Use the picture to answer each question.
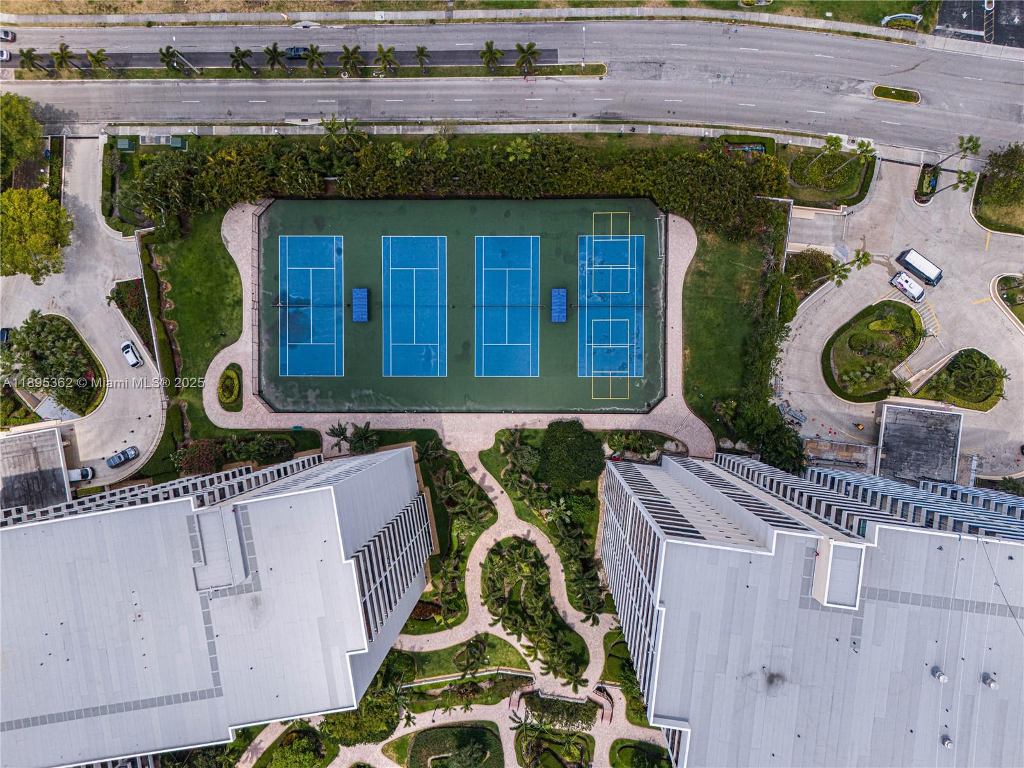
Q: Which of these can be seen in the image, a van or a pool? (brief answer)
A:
van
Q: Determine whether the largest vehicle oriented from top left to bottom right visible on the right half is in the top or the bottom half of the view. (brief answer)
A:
top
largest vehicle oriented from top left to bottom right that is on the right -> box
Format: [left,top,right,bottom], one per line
[891,245,945,287]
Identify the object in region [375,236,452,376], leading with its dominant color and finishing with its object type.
blue tennis court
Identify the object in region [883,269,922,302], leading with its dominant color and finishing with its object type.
white van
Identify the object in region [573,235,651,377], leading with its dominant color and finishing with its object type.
blue tennis court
